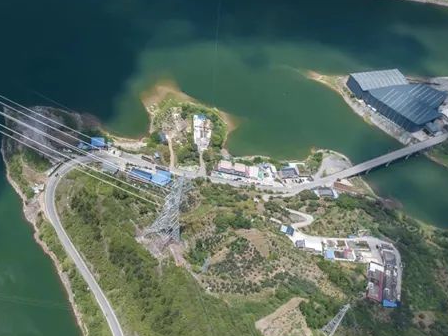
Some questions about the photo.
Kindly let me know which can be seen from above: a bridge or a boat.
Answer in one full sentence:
Of the two, only a bridge appears.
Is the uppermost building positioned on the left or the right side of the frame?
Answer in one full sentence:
The uppermost building is on the right side of the image.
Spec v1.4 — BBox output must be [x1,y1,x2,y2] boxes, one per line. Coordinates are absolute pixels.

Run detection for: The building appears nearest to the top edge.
[344,69,407,101]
